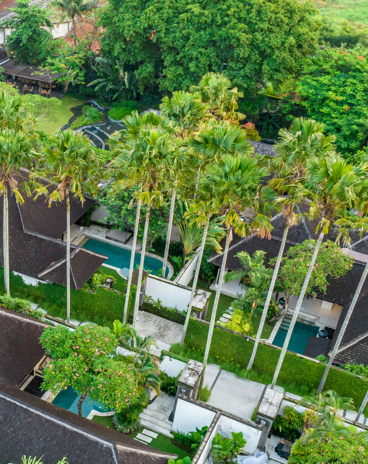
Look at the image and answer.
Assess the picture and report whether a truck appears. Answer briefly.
No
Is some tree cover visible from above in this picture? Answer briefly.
Yes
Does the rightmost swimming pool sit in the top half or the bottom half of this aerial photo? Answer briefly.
bottom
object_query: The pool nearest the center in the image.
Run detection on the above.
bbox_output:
[74,235,177,282]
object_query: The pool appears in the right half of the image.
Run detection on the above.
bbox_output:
[267,320,318,351]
